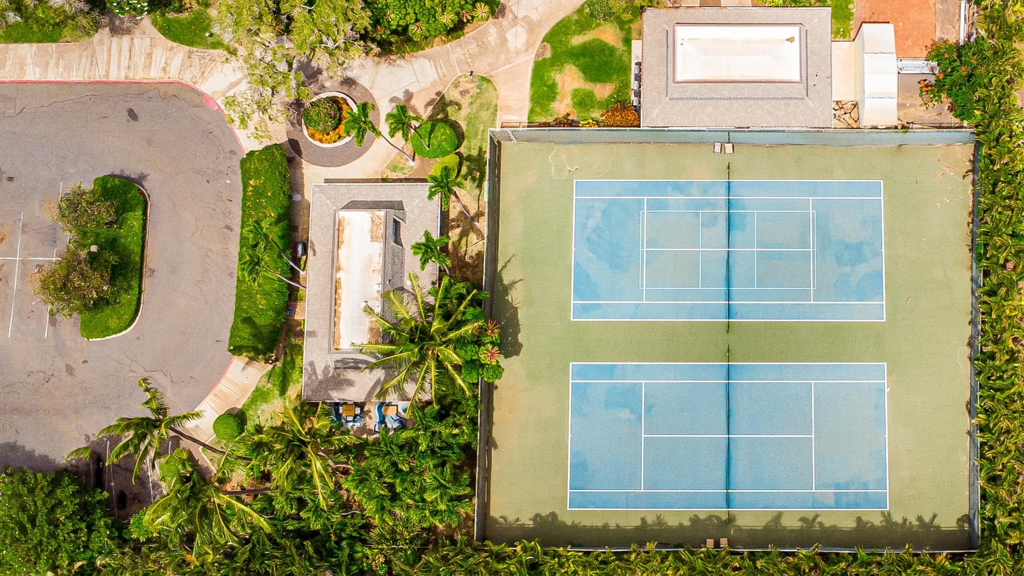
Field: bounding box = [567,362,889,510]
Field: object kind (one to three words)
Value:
tennis court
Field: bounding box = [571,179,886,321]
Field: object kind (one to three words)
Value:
tennis court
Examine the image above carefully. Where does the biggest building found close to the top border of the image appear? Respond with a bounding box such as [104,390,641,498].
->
[640,6,834,129]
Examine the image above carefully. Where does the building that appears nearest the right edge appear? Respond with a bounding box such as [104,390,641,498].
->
[851,23,897,132]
